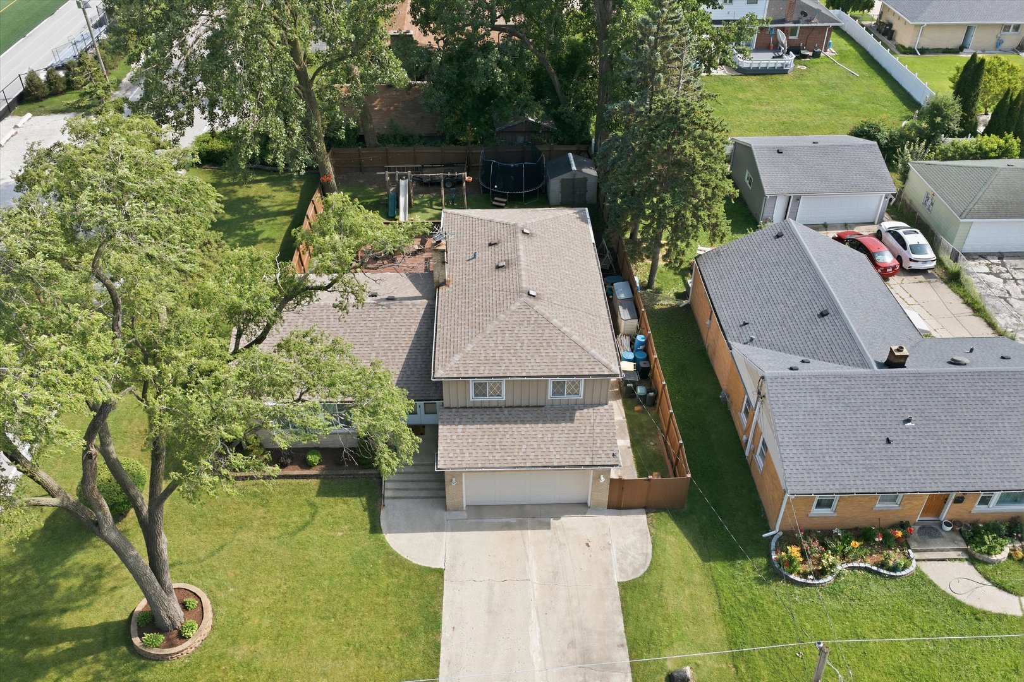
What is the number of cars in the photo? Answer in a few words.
2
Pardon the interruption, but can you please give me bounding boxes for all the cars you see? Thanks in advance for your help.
[840,228,910,281]
[875,218,936,269]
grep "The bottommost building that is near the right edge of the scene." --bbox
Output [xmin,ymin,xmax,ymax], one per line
[681,220,1024,537]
